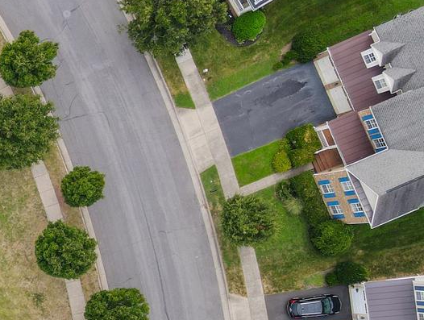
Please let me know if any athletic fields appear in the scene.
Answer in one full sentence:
No, there's no athletic field here.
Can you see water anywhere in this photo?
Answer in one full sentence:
No, the picture contains no water.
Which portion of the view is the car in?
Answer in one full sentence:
Look in the bottom right portion of the view to spot the car.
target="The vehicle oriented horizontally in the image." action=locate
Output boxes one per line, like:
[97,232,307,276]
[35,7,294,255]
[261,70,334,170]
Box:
[283,294,339,320]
